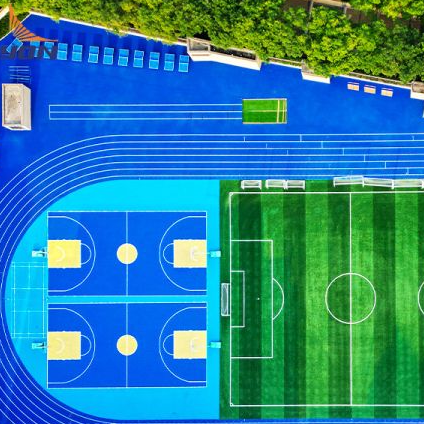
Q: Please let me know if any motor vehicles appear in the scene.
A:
No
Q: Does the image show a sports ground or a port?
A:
sports ground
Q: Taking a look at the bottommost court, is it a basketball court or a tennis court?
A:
basketball court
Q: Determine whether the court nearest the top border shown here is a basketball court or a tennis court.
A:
basketball court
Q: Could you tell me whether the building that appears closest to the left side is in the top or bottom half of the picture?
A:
top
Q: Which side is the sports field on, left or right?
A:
right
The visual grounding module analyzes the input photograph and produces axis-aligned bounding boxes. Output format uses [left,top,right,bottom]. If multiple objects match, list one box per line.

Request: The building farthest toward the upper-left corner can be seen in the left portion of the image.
[2,85,31,131]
